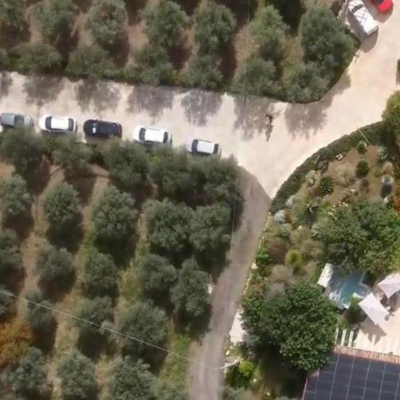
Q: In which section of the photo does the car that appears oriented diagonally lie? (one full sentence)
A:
You can find the car that appears oriented diagonally in the top right area of the picture.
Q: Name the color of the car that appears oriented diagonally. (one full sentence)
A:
The car that appears oriented diagonally is white.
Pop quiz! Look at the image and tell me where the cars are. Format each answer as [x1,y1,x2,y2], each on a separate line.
[370,0,394,12]
[134,125,174,146]
[345,0,380,38]
[188,137,223,156]
[0,111,38,129]
[40,114,79,133]
[84,119,124,139]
